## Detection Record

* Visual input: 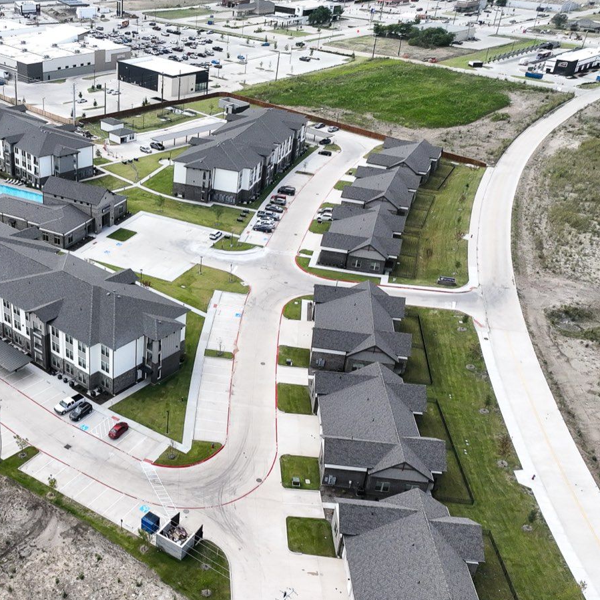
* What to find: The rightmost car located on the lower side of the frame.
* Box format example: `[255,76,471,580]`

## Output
[107,417,130,436]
